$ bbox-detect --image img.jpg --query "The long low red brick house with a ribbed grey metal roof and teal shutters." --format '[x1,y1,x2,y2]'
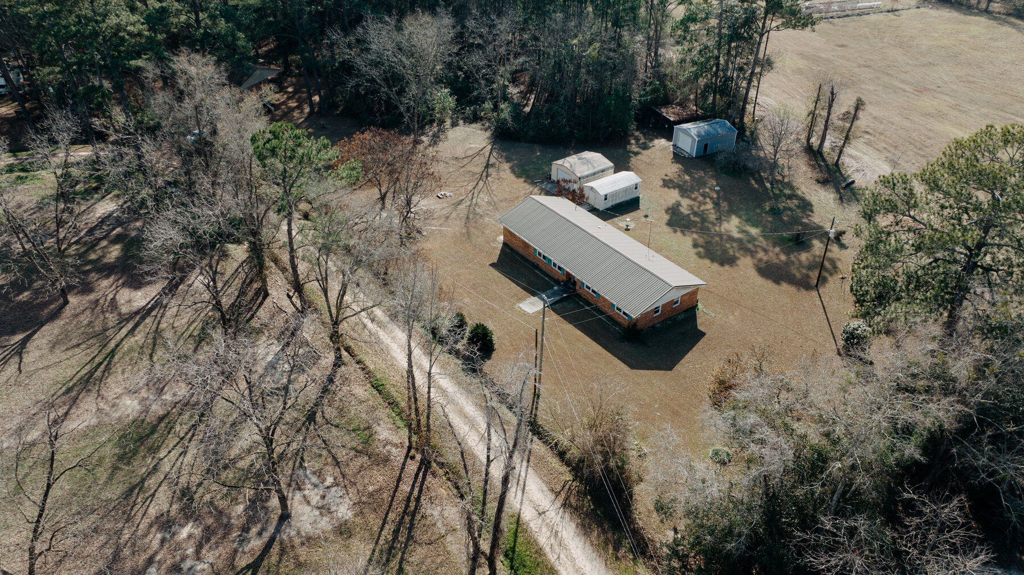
[495,195,708,334]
